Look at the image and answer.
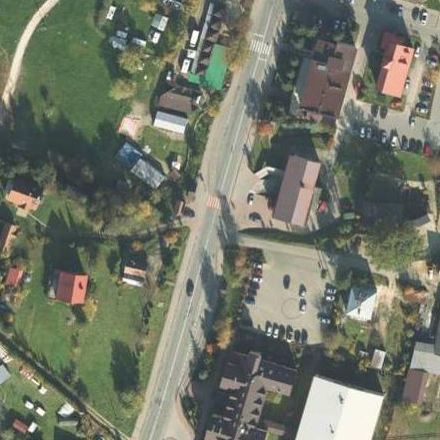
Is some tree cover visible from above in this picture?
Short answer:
Yes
